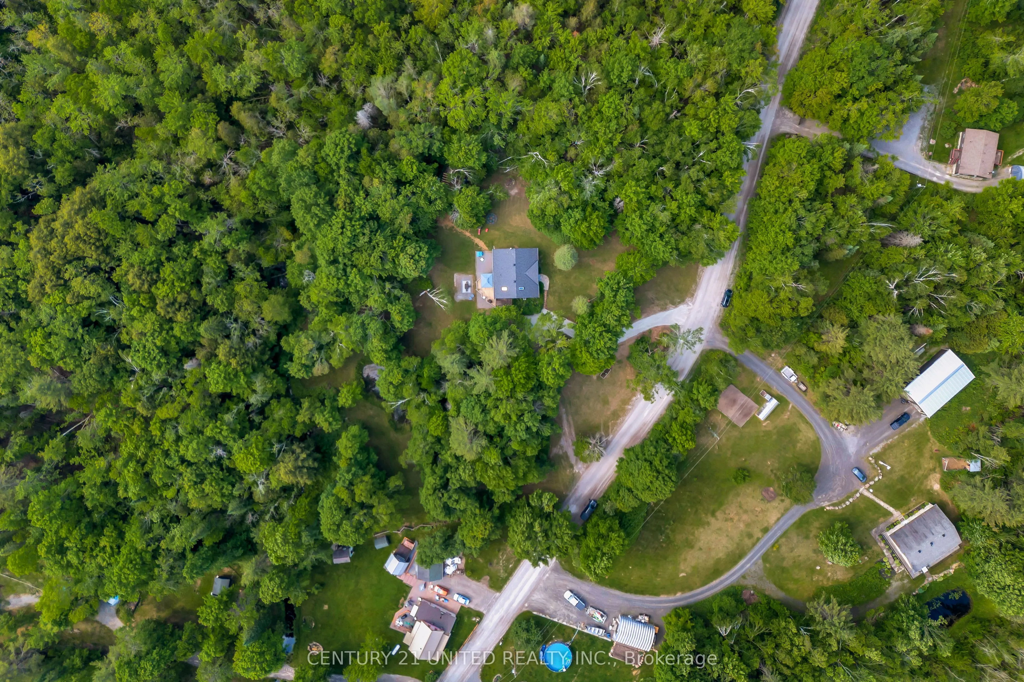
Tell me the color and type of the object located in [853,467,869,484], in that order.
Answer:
blue car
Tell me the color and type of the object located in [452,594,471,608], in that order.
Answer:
white car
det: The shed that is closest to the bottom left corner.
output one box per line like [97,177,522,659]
[212,575,233,597]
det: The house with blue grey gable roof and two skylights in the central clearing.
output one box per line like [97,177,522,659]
[492,246,542,301]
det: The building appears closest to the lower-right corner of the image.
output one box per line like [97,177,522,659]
[882,503,962,581]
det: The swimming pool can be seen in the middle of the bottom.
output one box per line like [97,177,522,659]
[544,644,573,675]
